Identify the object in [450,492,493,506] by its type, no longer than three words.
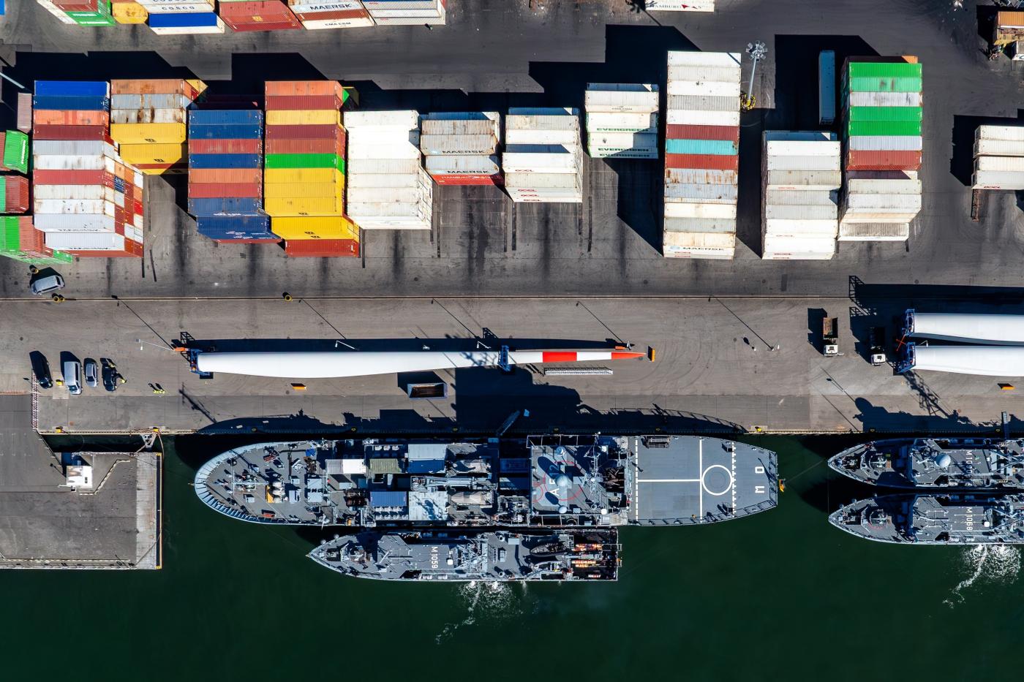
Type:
boat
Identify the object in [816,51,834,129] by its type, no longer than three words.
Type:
trailer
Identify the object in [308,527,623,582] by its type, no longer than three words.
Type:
ship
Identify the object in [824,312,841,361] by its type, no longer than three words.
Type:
vehicle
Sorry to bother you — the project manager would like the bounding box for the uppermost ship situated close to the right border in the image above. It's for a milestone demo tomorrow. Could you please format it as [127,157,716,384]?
[830,432,1024,489]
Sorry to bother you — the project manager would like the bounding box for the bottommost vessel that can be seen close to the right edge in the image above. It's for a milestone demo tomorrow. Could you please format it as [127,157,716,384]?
[830,490,1024,547]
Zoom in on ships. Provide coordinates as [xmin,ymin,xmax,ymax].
[194,430,787,527]
[830,432,1024,489]
[830,490,1024,547]
[308,527,623,582]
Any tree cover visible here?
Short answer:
No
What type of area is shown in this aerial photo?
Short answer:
port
